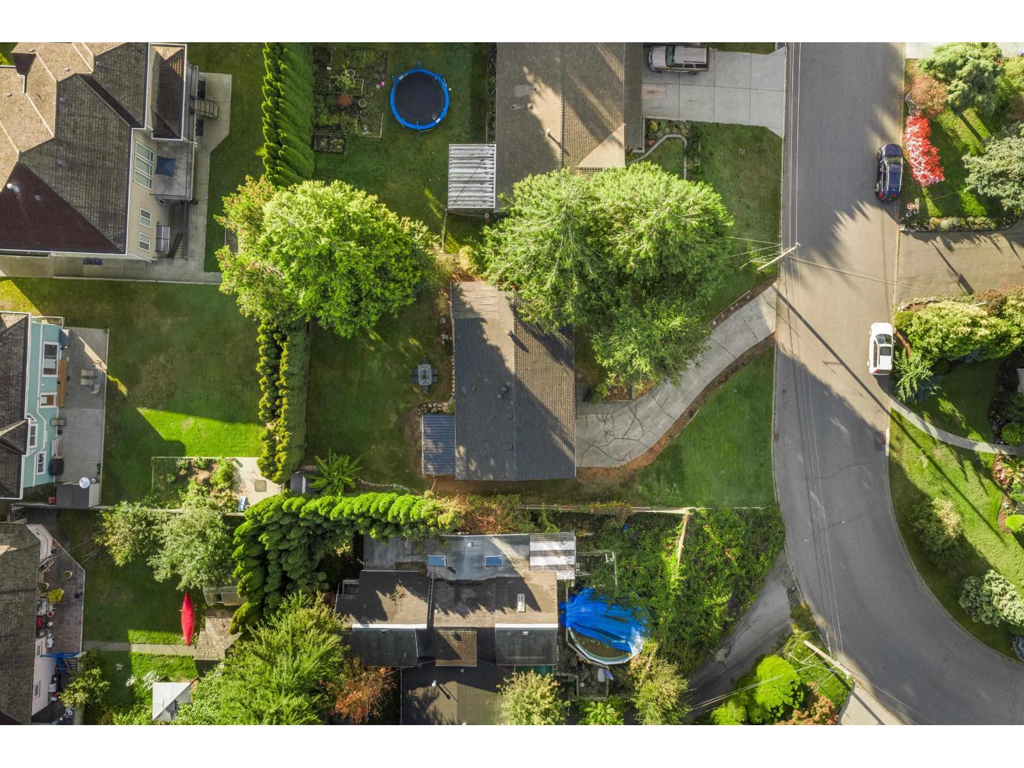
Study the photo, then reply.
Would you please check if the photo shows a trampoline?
Yes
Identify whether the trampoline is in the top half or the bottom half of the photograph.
top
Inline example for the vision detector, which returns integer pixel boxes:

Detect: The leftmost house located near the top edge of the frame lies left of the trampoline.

[0,19,218,259]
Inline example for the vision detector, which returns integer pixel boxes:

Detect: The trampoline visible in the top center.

[390,62,450,132]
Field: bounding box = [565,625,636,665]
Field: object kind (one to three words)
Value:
swimming pool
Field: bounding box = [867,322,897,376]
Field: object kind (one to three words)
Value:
car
